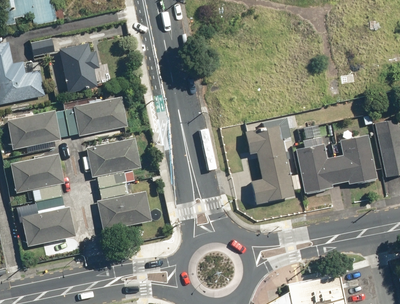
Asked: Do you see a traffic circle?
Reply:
Yes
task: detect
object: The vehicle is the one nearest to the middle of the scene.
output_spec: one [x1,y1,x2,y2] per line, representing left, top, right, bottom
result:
[199,128,216,170]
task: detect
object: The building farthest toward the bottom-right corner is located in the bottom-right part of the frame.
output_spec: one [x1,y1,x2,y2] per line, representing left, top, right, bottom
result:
[289,275,349,304]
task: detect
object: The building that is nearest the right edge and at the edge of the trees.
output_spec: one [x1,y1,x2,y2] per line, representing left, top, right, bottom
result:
[375,120,400,176]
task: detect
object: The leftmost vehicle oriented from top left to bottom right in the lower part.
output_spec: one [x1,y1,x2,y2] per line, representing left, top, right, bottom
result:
[230,240,246,253]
